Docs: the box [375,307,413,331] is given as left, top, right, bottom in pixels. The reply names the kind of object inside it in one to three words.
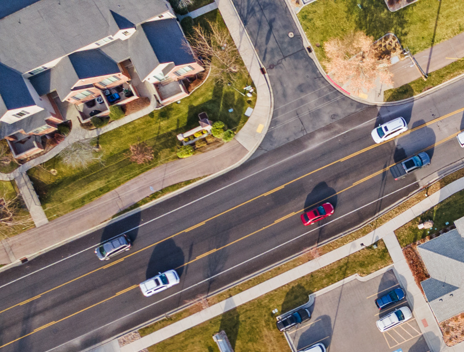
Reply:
car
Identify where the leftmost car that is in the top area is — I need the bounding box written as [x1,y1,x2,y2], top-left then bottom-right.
[372,118,408,143]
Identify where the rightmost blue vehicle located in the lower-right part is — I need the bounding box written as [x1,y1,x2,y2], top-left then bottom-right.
[373,287,407,309]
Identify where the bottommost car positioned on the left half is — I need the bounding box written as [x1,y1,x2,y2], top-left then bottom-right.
[138,270,180,296]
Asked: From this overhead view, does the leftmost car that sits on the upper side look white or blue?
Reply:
white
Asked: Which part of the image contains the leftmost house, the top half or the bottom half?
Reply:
top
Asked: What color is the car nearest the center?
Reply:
red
